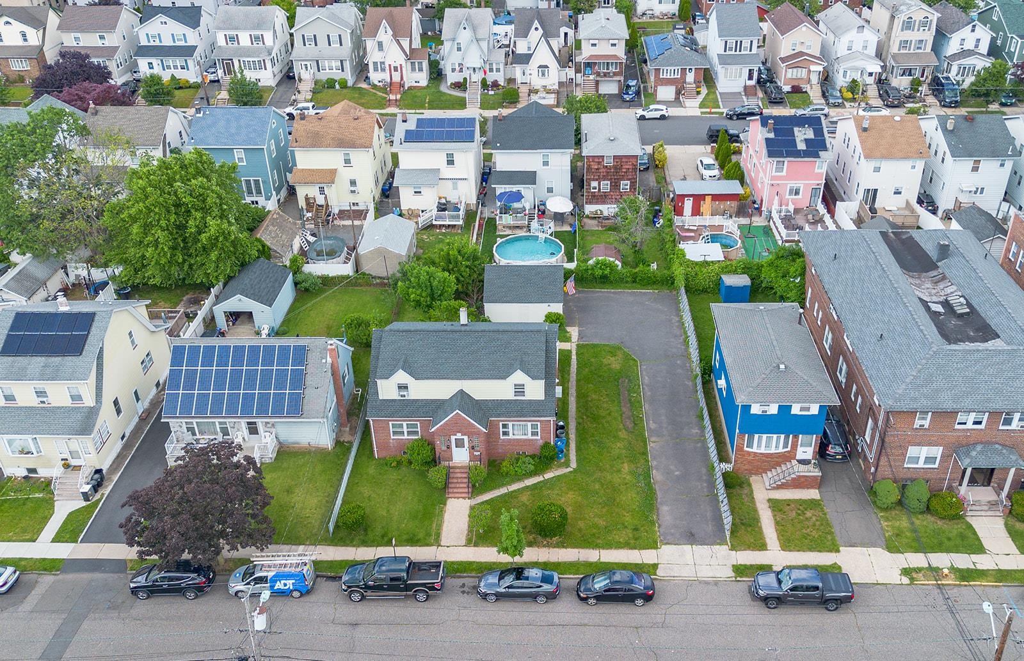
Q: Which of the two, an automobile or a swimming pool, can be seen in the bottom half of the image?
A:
automobile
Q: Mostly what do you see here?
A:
buildings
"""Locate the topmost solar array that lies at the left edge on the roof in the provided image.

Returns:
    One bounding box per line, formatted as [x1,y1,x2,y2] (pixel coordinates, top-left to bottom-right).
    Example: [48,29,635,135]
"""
[1,306,103,369]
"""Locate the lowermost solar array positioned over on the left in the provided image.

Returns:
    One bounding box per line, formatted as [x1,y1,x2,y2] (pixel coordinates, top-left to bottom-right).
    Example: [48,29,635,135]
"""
[160,344,310,414]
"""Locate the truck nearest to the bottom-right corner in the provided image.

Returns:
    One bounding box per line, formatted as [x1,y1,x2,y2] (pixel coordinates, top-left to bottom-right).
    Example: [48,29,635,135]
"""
[757,563,862,608]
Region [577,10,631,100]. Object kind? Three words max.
house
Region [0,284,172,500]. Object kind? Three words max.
house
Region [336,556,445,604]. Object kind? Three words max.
truck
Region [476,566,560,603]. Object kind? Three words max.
car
